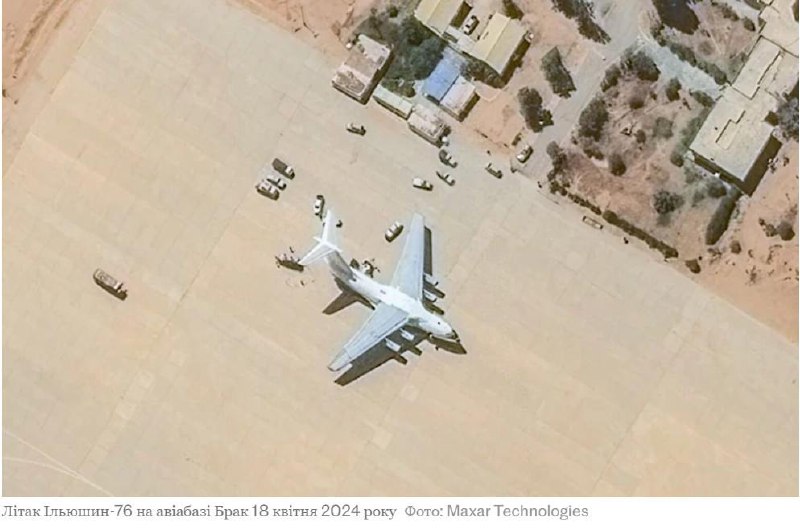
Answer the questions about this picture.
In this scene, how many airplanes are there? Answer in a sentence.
I count 1 airplane.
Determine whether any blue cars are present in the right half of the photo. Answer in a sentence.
No, there is no blue car in the right half of the photo.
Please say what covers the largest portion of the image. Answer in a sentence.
For the most part, this view shows paved ground.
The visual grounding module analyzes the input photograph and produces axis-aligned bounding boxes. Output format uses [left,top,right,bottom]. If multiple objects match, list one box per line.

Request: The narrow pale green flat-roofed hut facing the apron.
[373,84,412,120]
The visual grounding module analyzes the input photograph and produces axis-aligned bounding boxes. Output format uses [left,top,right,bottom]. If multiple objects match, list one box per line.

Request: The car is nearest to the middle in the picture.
[384,220,402,240]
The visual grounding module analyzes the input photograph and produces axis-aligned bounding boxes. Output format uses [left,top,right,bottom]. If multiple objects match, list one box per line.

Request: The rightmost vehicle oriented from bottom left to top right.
[516,144,532,163]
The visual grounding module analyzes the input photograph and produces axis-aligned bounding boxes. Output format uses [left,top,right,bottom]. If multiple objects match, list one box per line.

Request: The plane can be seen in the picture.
[300,209,461,371]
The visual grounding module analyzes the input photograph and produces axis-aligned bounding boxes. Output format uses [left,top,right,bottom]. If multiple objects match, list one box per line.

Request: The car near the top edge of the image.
[461,15,476,34]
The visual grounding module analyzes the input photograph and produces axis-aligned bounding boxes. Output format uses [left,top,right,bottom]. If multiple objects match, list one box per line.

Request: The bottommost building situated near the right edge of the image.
[689,85,777,192]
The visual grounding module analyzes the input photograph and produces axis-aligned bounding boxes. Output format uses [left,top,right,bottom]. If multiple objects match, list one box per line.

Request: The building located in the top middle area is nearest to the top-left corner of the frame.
[333,35,391,104]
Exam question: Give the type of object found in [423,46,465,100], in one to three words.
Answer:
shed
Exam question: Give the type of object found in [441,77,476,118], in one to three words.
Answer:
shed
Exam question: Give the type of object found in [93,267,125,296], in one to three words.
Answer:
truck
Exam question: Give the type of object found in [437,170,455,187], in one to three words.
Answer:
vehicle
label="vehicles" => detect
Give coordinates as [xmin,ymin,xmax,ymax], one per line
[274,252,302,270]
[256,178,279,199]
[516,144,532,163]
[412,176,433,191]
[93,267,125,296]
[337,220,343,229]
[270,156,296,180]
[461,15,476,34]
[437,170,455,187]
[384,220,402,240]
[314,195,323,217]
[484,163,503,179]
[437,148,457,167]
[266,174,285,190]
[346,121,366,135]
